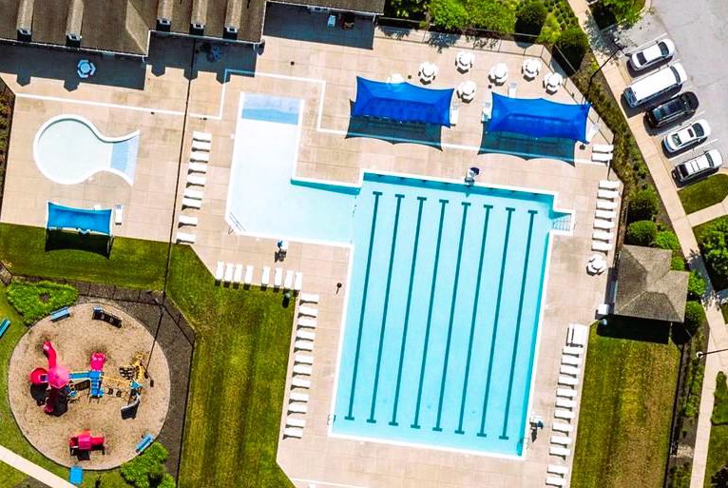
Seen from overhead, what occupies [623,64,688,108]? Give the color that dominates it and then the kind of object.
white van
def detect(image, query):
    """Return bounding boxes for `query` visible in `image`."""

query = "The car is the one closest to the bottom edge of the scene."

[671,147,724,184]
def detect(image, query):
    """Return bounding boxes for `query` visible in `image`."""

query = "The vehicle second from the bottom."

[660,118,711,154]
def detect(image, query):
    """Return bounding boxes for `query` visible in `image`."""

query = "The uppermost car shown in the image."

[627,38,675,74]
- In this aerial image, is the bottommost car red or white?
white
